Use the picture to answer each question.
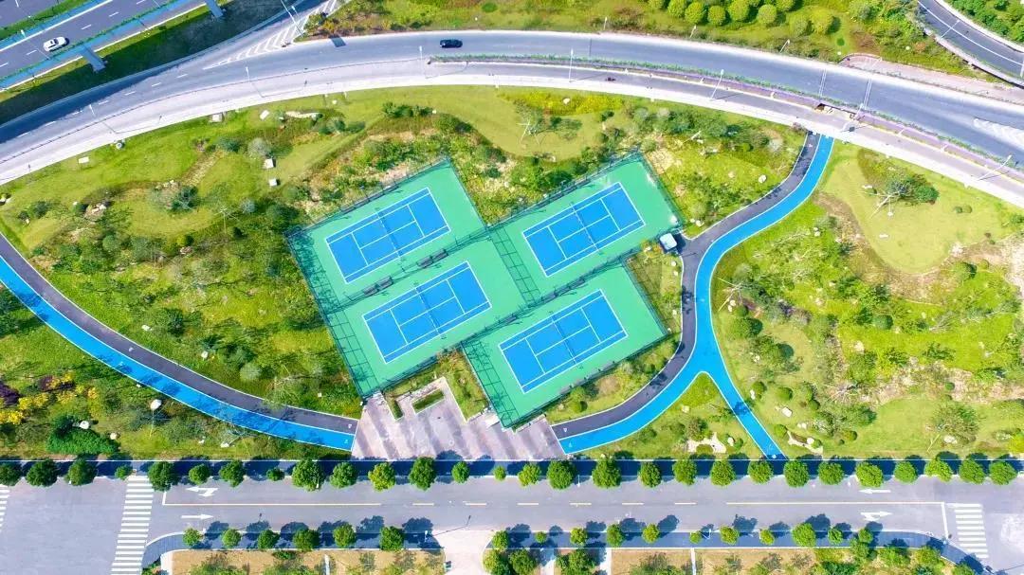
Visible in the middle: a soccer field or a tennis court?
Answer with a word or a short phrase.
tennis court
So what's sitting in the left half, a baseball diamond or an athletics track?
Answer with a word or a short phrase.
athletics track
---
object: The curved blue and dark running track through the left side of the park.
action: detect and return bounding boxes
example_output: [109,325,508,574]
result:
[0,234,358,451]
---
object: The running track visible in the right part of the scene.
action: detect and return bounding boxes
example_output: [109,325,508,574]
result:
[551,131,834,460]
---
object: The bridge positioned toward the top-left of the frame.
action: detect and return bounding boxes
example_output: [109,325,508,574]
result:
[0,0,231,85]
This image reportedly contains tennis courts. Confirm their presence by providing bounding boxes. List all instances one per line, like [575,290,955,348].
[289,159,485,313]
[488,149,683,305]
[327,229,528,397]
[462,258,666,426]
